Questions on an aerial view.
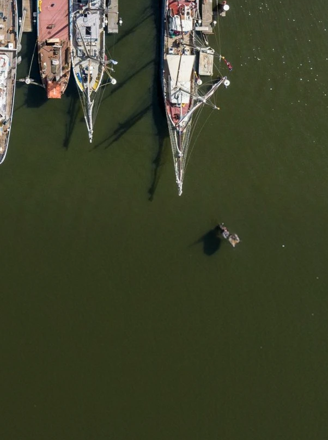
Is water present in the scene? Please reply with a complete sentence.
Yes, some water is visible.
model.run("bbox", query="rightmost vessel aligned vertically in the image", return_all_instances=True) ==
[161,0,227,194]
